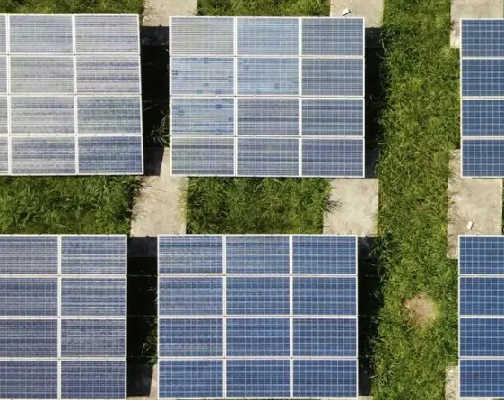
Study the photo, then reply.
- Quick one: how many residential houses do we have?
none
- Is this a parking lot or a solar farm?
solar farm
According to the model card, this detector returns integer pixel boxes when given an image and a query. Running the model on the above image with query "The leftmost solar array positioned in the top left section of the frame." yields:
[0,14,156,174]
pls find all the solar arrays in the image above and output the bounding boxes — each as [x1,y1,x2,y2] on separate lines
[459,236,504,400]
[0,14,156,174]
[158,236,364,399]
[170,17,371,176]
[0,236,142,400]
[461,20,504,178]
